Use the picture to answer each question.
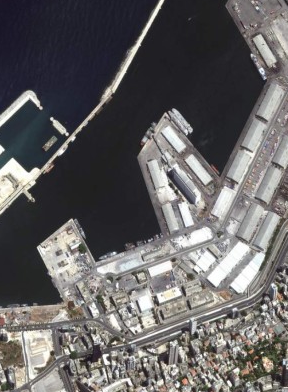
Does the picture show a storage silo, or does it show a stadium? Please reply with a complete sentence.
The one in the frame is a storage silo.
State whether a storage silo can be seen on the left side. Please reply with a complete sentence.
No, looking on the left side, there is no storage silo.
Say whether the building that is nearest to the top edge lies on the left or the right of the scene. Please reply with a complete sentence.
The building that is nearest to the top edge sits on the right side.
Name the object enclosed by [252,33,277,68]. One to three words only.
building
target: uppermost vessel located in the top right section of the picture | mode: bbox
[251,53,266,80]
